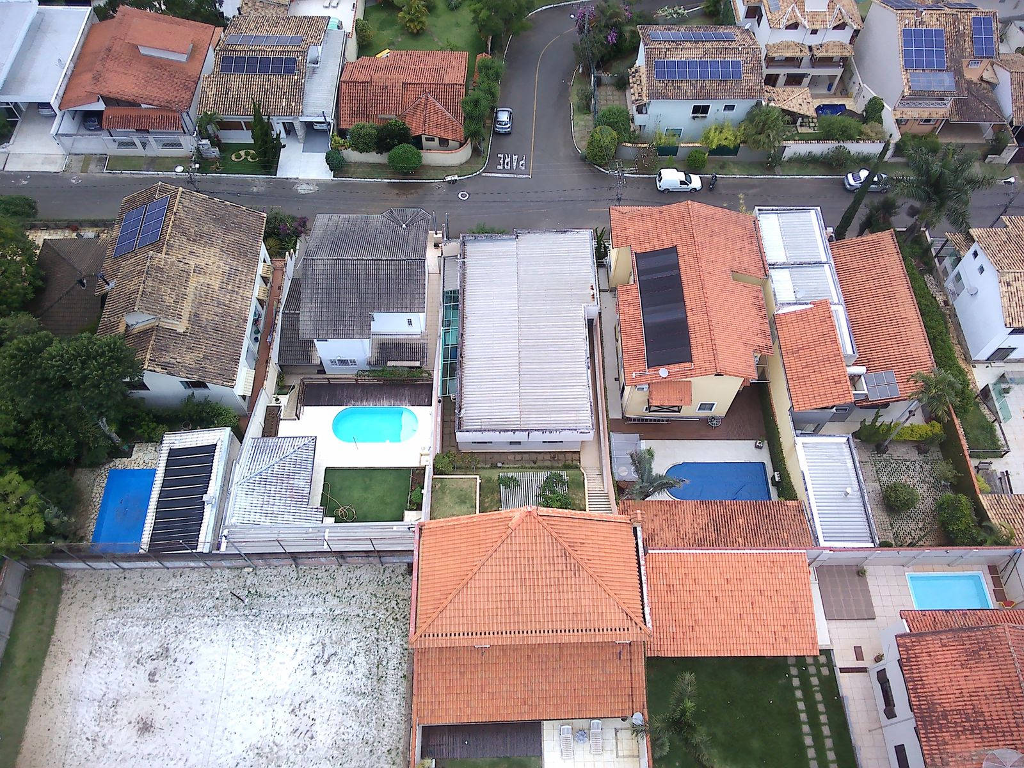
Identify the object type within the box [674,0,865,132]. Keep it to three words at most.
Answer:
house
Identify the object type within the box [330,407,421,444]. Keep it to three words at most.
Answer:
swimming pool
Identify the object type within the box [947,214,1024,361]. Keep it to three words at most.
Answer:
house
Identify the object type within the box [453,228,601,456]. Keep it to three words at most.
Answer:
building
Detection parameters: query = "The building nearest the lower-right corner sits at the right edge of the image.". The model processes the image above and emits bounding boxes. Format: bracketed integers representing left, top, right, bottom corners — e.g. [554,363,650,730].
[871,608,1024,768]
